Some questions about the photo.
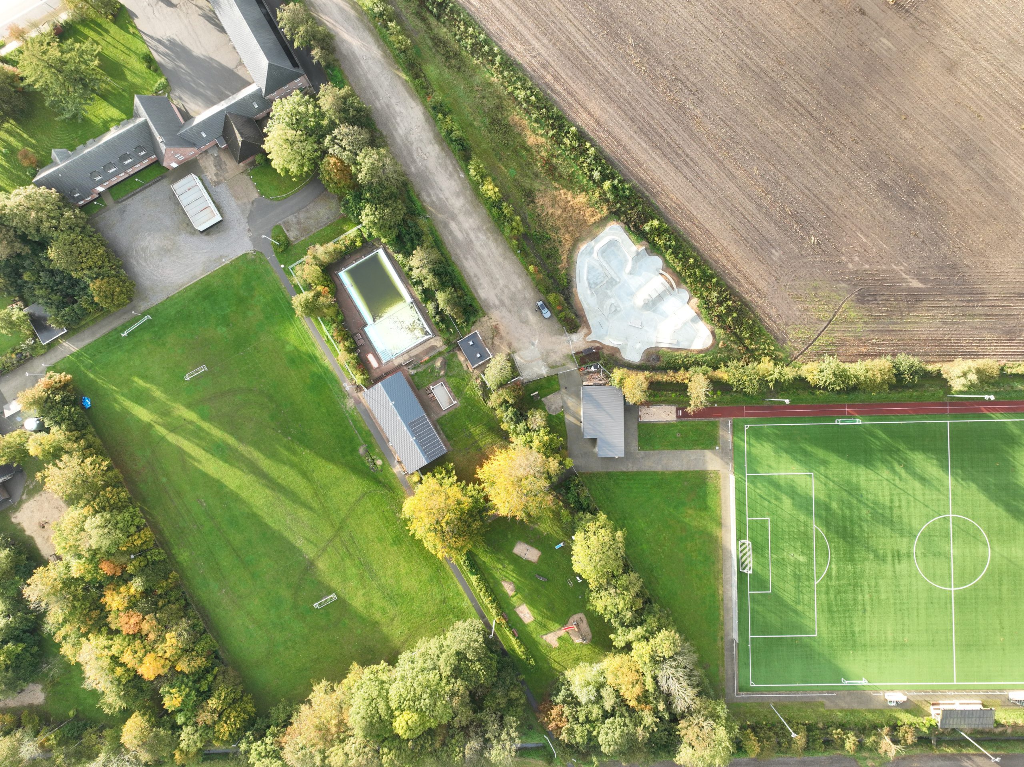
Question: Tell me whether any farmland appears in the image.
Yes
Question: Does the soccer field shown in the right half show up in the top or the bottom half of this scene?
bottom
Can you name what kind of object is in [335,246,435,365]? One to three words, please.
swimming pool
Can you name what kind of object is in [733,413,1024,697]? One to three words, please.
soccer field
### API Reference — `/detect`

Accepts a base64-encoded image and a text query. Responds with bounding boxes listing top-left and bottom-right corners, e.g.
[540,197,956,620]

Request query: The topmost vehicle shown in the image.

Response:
[536,299,550,318]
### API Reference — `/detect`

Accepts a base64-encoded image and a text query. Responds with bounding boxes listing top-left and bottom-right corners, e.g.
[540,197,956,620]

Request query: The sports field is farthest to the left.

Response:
[68,255,474,695]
